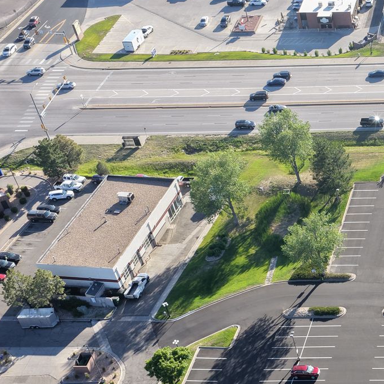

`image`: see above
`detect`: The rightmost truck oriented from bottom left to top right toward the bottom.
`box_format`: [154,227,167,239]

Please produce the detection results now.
[121,274,151,298]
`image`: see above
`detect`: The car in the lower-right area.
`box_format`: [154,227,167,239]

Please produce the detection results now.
[289,365,320,378]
